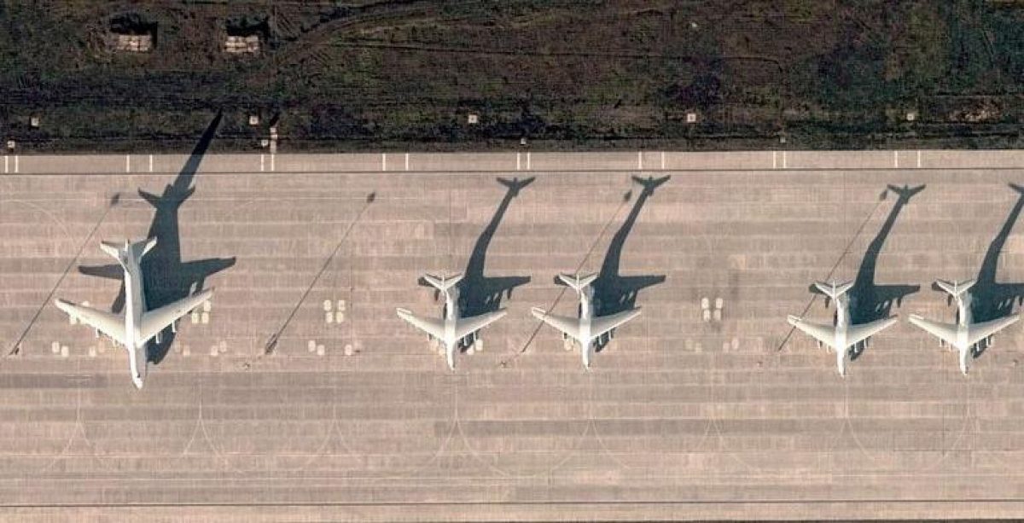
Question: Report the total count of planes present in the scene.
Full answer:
The picture shows 5 planes.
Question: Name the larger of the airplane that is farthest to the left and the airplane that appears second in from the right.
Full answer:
It is the airplane that is farthest to the left that is larger, not the airplane that appears second in from the right.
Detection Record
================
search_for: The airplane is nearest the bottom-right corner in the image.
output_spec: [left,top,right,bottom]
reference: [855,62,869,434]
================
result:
[908,277,1019,375]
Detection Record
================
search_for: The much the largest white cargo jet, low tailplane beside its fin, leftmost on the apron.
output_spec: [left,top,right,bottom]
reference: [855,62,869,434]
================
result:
[52,240,213,390]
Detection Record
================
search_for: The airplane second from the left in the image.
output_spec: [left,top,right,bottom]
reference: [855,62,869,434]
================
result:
[397,273,506,370]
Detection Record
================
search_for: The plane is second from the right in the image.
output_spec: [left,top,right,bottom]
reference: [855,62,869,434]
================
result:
[786,279,896,377]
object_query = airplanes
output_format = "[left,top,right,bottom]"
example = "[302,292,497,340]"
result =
[52,240,213,390]
[397,273,506,370]
[908,277,1019,375]
[531,272,641,369]
[786,279,896,377]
